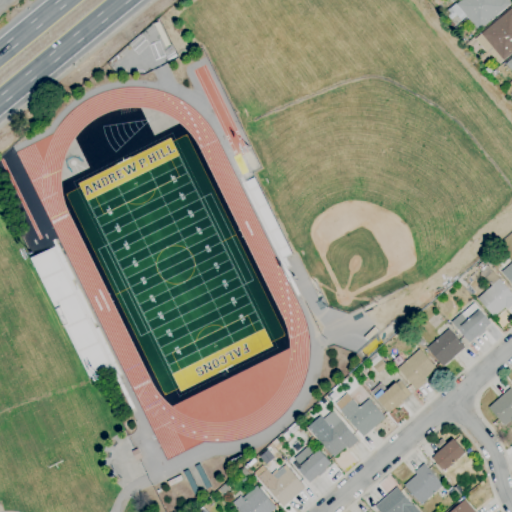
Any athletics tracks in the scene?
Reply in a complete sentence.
Yes, I can see an athletics track in this picture.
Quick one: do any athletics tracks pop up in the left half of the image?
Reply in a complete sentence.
Yes, you'll find an athletics track in the left half of the image.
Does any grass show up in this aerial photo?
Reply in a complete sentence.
Yes, the picture does contain grass.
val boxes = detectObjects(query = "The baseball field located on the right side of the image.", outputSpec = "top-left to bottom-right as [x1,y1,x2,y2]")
[246,78,512,311]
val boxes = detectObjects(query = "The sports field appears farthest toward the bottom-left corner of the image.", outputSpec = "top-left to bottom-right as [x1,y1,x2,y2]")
[66,133,285,396]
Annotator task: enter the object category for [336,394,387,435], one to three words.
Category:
house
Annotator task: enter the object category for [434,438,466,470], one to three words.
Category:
house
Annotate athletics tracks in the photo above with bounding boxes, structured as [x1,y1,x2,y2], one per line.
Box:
[17,86,310,458]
